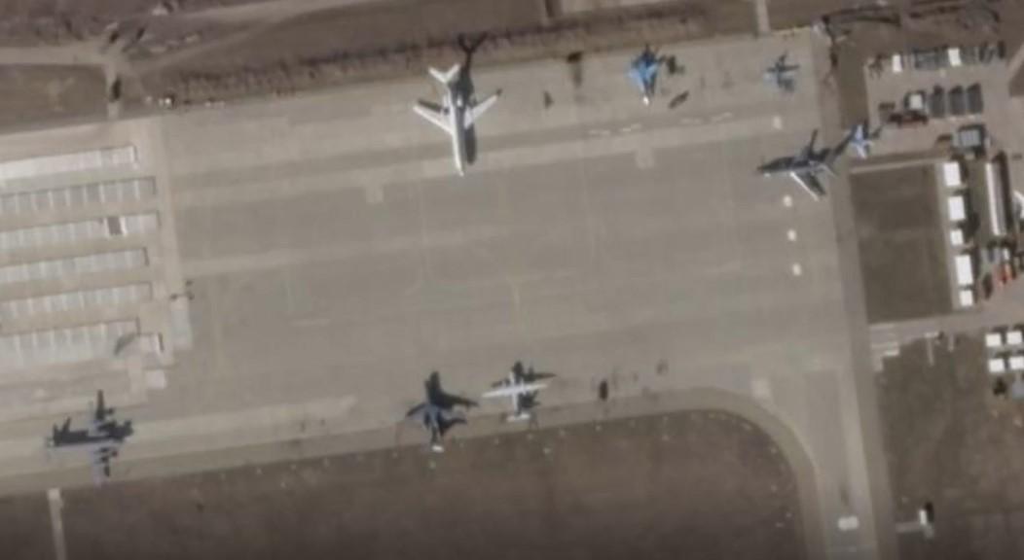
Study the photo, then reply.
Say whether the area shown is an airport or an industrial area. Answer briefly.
airport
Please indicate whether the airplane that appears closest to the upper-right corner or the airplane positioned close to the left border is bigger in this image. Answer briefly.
the airplane positioned close to the left border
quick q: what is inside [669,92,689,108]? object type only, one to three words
vehicle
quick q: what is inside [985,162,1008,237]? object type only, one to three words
building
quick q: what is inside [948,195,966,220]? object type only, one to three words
shed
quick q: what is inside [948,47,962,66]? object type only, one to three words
vehicle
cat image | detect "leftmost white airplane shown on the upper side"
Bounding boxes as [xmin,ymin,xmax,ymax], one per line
[418,64,497,176]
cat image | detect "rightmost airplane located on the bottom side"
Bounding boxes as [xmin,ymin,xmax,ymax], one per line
[484,371,545,422]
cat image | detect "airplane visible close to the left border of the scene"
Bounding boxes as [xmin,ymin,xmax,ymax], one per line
[50,403,127,492]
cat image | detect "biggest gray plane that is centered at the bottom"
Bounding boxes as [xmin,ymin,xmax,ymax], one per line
[399,379,472,455]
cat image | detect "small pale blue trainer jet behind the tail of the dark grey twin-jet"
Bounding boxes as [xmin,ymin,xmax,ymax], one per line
[848,122,875,159]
